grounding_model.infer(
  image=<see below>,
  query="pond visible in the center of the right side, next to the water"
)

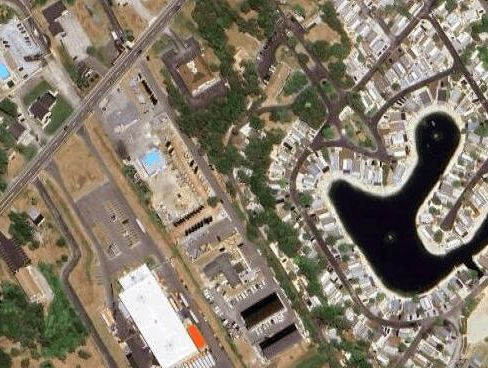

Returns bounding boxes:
[328,112,488,298]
